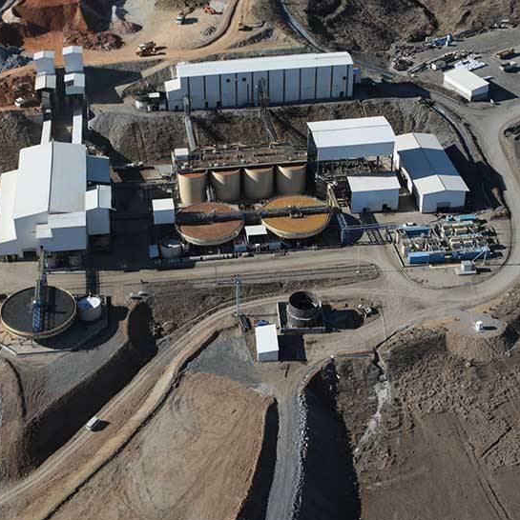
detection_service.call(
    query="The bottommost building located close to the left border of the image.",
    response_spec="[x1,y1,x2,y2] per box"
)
[0,141,116,278]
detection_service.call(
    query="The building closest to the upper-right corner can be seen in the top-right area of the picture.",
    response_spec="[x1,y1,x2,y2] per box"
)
[443,65,493,102]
